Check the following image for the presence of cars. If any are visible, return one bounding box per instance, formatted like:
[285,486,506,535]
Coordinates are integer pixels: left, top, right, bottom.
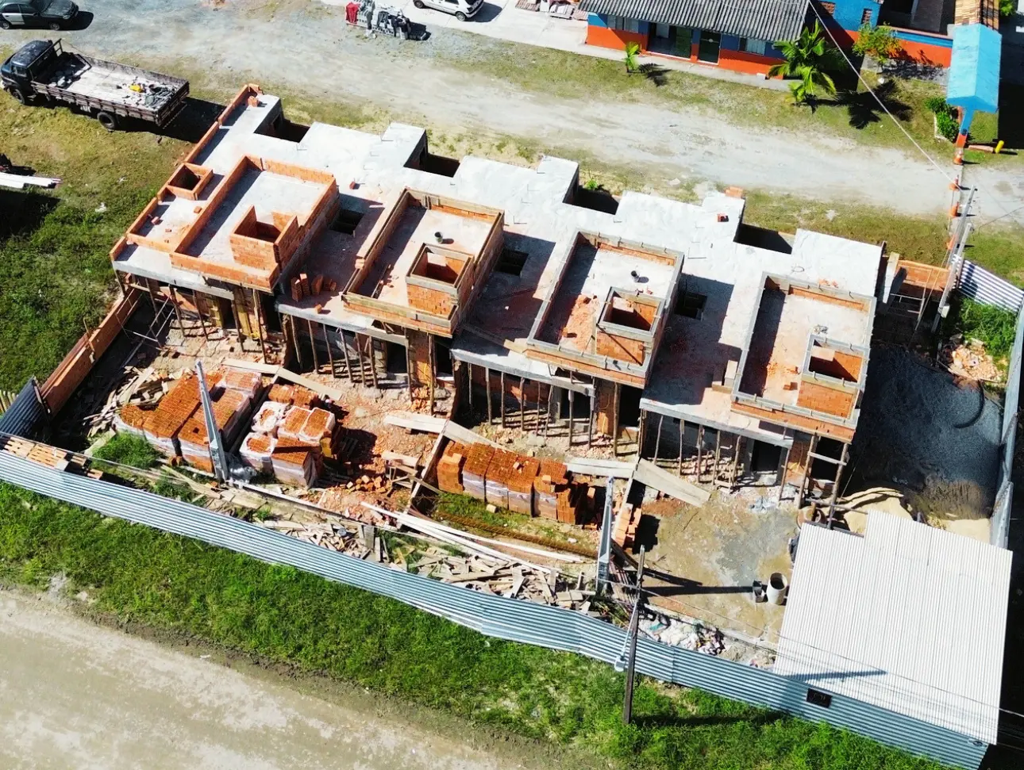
[416,0,487,21]
[0,0,79,30]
